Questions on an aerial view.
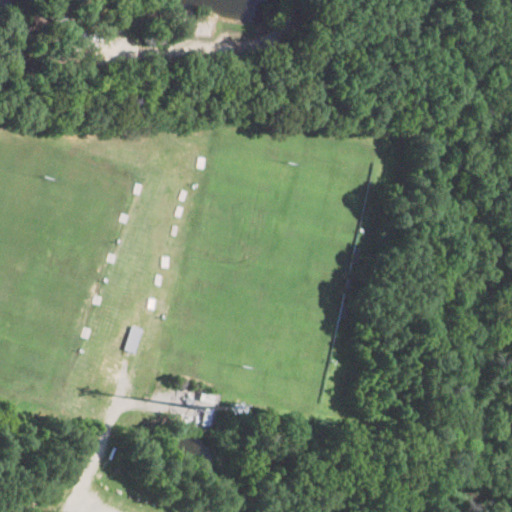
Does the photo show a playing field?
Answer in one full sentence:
Yes, there's a playing field here.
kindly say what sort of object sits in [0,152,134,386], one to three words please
sports field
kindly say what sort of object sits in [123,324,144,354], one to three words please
building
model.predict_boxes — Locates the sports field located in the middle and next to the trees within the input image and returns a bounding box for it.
[180,140,366,404]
